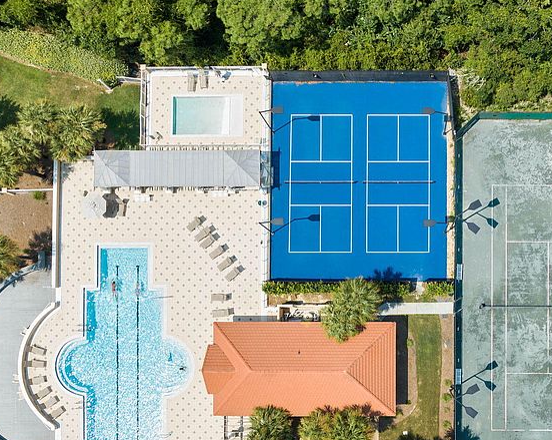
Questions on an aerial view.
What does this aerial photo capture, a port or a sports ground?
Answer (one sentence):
This image shows a sports ground.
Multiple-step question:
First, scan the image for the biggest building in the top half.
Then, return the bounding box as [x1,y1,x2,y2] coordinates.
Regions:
[93,149,266,192]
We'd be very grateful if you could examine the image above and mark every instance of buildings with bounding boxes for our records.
[93,149,266,192]
[202,321,396,417]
